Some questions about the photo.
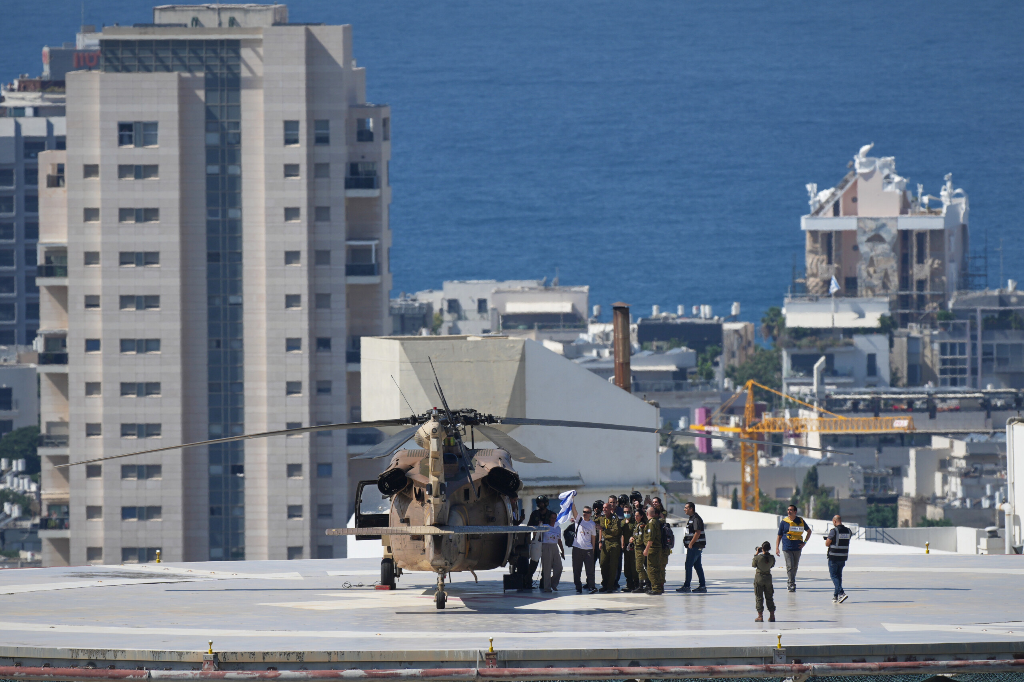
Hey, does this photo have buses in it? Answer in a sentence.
No, I can see no bus in this picture.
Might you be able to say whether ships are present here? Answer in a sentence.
No, I can see no ship in this picture.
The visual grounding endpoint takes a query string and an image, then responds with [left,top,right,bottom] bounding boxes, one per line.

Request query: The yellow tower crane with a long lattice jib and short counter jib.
[690,383,920,508]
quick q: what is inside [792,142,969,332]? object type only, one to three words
house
